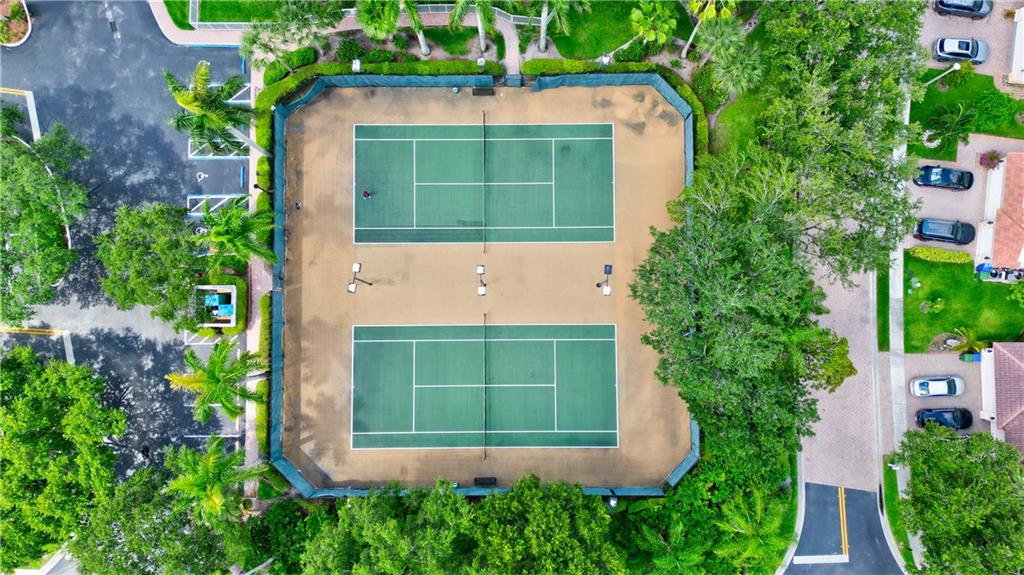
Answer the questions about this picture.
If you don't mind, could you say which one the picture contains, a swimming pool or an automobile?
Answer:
automobile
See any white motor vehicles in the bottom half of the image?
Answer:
Yes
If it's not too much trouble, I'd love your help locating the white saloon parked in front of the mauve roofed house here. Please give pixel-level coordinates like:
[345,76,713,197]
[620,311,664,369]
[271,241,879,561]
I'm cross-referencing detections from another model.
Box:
[908,373,965,399]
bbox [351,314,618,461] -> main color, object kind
green tennis court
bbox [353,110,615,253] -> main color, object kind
green tennis court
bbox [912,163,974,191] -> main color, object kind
blue car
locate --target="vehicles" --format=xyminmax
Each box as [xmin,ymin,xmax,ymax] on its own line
[908,373,965,399]
[915,405,972,433]
[913,218,974,245]
[912,163,974,191]
[930,37,987,63]
[931,0,992,21]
